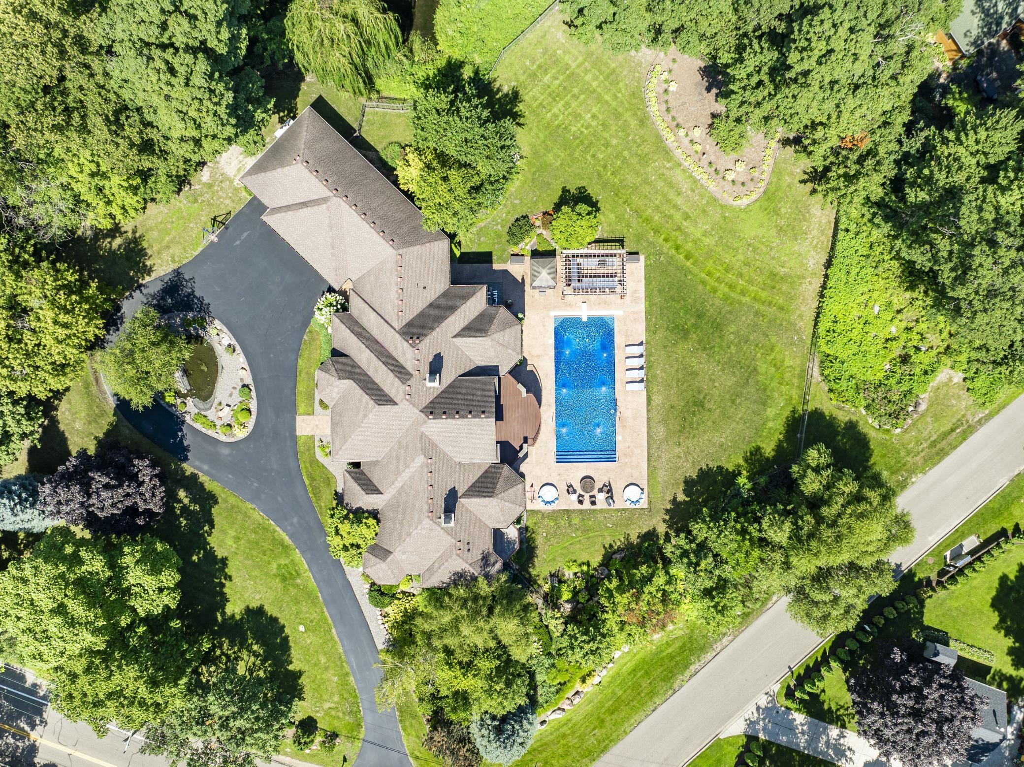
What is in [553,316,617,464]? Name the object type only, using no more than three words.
swimming pool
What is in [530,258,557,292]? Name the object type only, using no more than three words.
gazebo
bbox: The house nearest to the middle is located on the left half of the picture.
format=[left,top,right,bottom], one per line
[238,105,527,588]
